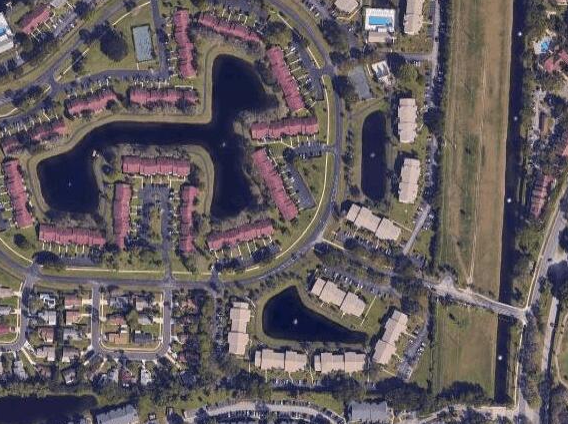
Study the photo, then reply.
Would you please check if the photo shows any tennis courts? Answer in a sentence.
Yes, you can see a tennis court in this photo.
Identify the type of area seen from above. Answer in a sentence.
The area seen from above is a residential area.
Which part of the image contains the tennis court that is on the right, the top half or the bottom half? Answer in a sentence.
The tennis court that is on the right is in the top half of the image.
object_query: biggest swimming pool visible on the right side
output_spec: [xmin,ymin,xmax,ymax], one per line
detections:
[365,10,394,32]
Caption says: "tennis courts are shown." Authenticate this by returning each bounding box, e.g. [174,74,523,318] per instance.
[345,65,374,102]
[133,25,150,64]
